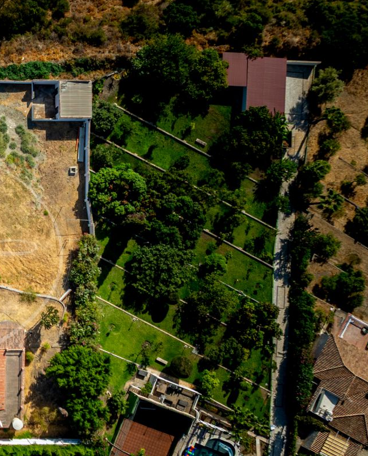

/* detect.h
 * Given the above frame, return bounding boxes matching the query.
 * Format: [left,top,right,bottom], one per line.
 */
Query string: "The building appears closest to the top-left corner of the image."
[28,81,93,125]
